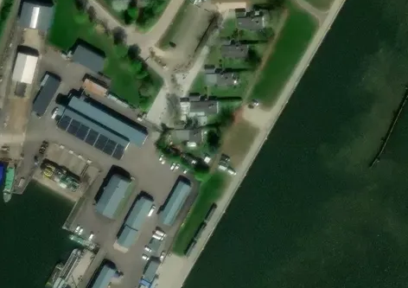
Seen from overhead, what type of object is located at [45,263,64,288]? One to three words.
ship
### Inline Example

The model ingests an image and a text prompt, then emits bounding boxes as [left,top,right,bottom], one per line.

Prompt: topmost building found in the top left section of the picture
[19,0,56,30]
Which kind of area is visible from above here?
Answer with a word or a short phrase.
port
